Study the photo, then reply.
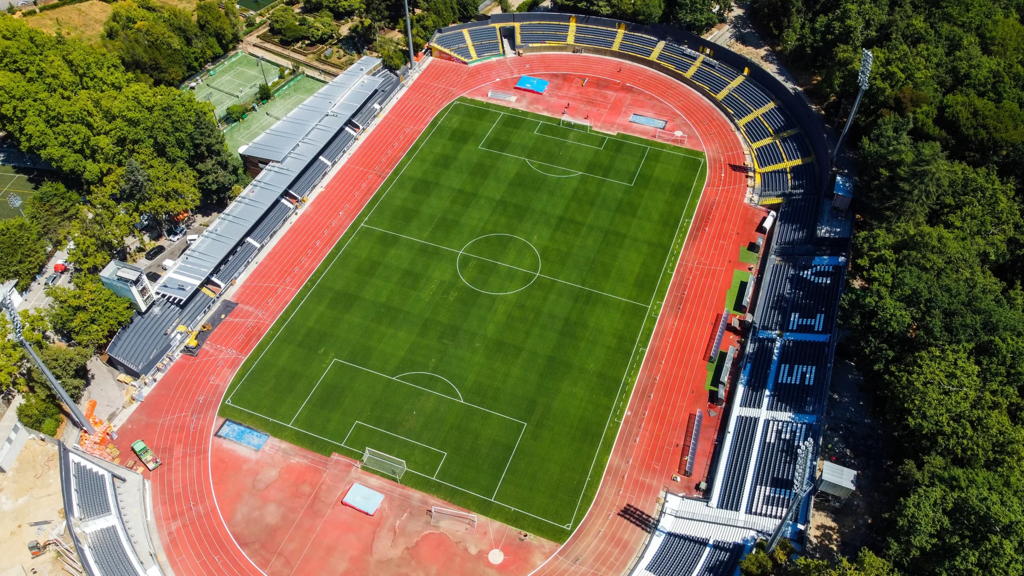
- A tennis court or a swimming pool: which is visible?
tennis court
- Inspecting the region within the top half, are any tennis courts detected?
Yes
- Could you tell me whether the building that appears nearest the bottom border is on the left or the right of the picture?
right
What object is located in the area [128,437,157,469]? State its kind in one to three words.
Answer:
truck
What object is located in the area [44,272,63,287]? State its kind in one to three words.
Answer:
car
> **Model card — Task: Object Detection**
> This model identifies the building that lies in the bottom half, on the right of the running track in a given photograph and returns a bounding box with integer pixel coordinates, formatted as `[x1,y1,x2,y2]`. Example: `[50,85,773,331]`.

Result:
[816,461,857,511]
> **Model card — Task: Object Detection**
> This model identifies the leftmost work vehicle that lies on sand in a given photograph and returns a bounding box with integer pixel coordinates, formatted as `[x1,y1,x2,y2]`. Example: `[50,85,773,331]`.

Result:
[26,538,63,557]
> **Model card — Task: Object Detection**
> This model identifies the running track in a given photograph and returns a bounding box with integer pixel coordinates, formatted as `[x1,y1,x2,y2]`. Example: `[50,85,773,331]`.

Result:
[109,53,781,576]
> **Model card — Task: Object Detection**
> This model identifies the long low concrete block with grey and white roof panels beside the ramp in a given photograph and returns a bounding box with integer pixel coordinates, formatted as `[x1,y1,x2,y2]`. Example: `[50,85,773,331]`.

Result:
[0,423,39,495]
